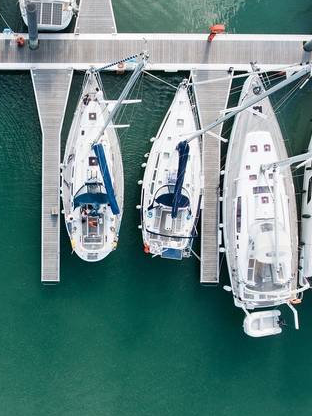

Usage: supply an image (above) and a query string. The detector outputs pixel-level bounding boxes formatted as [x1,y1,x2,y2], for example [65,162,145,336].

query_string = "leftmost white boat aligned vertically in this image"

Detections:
[63,29,154,263]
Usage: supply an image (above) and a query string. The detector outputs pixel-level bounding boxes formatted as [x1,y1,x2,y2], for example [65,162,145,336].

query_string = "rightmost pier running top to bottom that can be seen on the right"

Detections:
[189,70,233,285]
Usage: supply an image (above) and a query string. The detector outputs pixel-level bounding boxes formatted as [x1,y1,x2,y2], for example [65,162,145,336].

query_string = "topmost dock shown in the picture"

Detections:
[75,0,117,34]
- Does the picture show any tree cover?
No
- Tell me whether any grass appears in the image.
No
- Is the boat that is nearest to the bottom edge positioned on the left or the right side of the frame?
right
